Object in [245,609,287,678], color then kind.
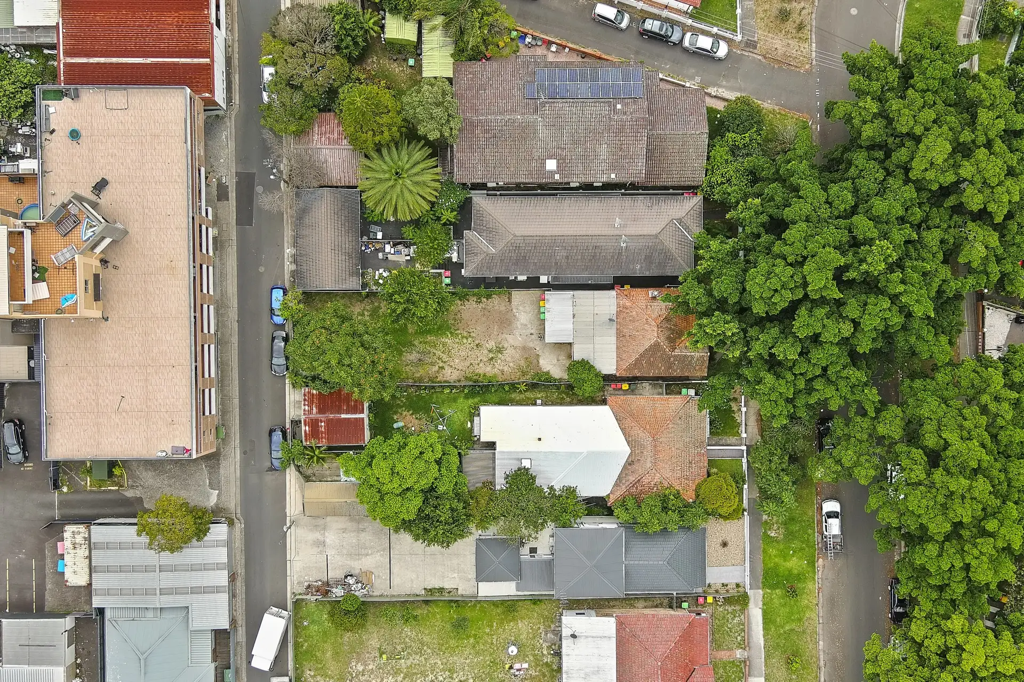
white truck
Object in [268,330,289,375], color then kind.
gray car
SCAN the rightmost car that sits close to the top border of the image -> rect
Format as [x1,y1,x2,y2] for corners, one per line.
[681,34,728,60]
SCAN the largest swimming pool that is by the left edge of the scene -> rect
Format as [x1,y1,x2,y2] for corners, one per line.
[14,200,41,220]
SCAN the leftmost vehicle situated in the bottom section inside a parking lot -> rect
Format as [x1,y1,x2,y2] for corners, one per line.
[3,417,30,463]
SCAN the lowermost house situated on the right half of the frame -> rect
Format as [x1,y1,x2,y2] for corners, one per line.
[562,605,713,682]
